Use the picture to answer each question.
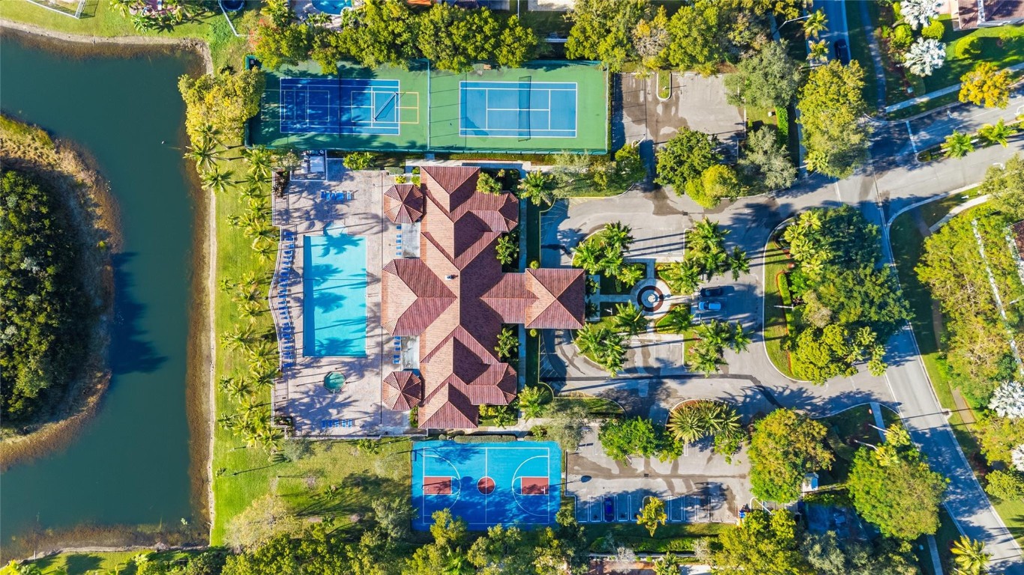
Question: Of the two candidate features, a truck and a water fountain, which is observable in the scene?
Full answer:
I can see a water fountain in this picture.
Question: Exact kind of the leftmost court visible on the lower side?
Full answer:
The leftmost court visible on the lower side appears to be a basketball court.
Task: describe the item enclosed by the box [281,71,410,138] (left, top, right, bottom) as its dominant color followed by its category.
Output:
blue tennis court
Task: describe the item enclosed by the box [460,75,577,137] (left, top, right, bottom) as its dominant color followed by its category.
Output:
blue tennis court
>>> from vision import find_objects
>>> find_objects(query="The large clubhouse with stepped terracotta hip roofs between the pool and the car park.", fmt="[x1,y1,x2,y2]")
[381,166,585,428]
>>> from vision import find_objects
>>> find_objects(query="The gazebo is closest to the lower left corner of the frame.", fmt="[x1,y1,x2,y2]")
[383,371,419,411]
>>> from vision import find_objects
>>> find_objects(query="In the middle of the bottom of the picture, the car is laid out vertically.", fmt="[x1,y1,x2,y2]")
[604,498,616,523]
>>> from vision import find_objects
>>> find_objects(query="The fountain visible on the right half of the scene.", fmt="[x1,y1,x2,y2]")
[637,284,664,311]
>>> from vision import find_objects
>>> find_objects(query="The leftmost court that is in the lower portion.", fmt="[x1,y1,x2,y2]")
[412,441,561,531]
